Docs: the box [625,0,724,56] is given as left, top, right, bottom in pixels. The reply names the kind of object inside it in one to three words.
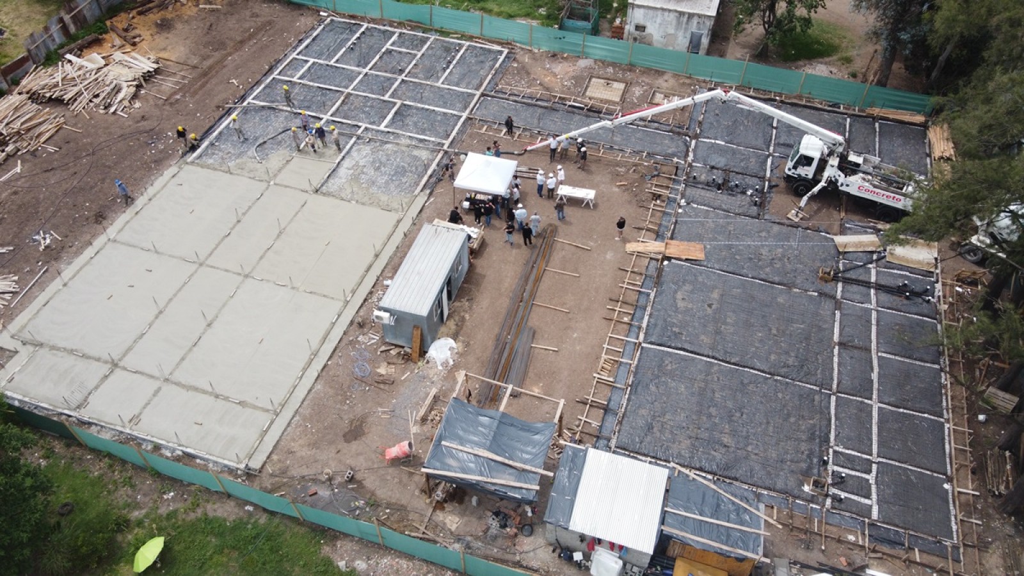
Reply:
house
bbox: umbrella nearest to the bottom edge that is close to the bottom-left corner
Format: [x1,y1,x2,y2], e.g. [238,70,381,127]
[132,534,175,575]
